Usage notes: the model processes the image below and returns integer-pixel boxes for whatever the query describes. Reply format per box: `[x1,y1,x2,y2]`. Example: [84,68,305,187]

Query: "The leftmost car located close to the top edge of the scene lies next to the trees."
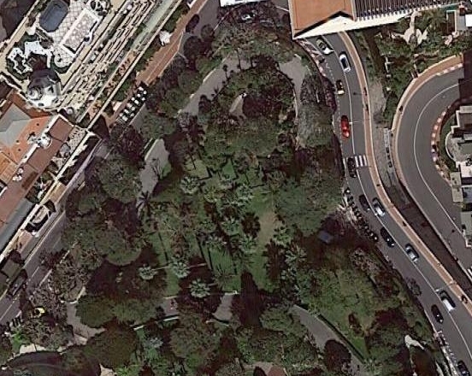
[188,11,201,26]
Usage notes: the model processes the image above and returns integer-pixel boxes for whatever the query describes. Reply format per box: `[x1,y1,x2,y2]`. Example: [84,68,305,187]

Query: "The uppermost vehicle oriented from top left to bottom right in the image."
[317,37,332,55]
